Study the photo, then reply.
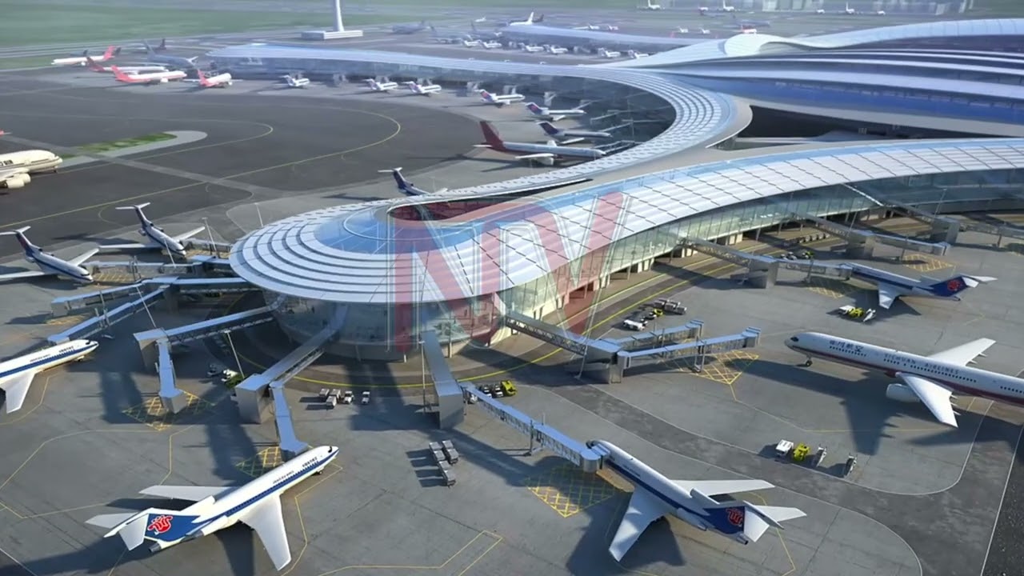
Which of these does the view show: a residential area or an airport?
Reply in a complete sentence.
The picture captures an airport.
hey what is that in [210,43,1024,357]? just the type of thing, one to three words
building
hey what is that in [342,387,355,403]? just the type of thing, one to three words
vehicle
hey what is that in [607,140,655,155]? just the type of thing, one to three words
jet bridge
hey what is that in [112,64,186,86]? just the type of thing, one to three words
airplane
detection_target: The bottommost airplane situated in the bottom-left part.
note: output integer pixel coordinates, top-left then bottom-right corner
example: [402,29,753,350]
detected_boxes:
[86,446,337,568]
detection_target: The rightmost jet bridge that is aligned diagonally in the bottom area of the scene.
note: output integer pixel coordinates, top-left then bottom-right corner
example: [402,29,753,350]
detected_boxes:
[419,326,608,483]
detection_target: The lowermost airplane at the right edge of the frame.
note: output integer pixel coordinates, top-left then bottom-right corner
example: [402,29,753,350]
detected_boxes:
[785,334,1024,427]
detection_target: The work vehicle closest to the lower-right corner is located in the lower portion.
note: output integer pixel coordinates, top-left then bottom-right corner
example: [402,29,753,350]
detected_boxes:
[843,449,860,475]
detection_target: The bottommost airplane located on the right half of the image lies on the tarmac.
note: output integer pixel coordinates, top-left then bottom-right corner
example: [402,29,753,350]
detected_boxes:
[588,441,805,560]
